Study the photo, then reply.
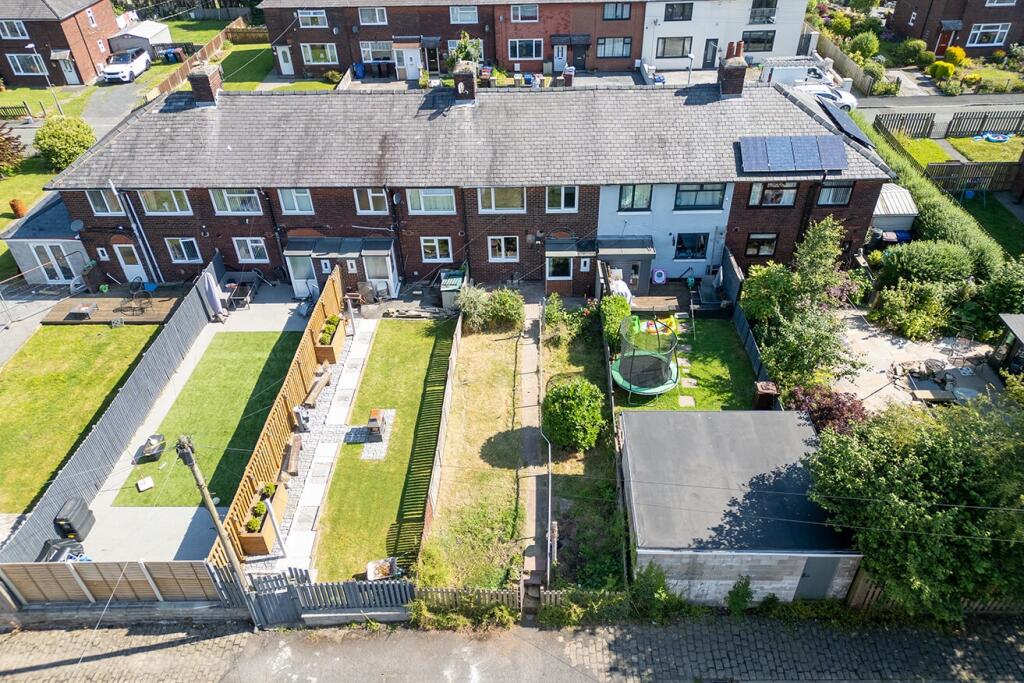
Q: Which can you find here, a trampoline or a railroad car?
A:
trampoline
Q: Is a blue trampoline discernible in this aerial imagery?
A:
No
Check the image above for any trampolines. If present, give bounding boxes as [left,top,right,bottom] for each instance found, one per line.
[610,317,681,408]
